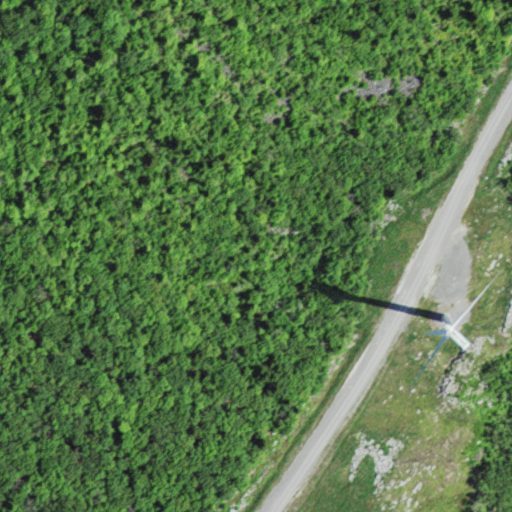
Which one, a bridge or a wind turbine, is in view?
wind turbine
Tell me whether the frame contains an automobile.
No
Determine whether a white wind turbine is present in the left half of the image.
No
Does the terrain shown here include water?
No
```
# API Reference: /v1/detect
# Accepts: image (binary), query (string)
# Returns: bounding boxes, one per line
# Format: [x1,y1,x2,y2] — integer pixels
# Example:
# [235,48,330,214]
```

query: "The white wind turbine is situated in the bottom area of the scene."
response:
[420,273,502,376]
